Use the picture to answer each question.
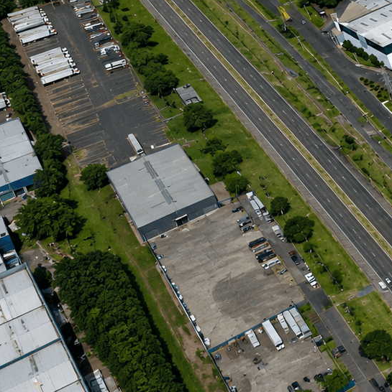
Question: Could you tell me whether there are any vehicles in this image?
Yes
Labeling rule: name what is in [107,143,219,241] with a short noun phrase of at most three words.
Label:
building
